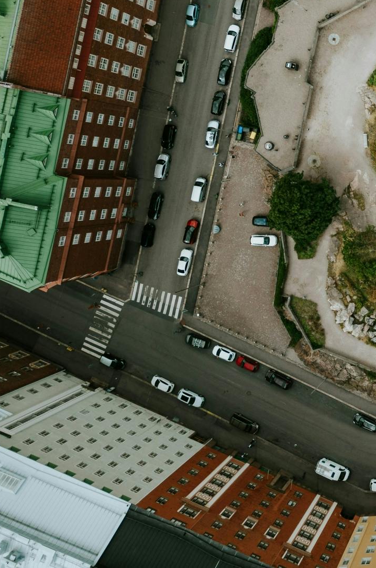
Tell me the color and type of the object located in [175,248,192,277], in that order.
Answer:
white car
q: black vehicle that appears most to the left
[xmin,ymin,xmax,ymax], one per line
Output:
[97,353,124,370]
